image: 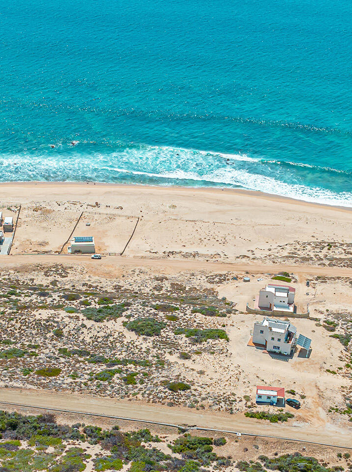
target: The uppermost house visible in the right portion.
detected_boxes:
[254,280,297,313]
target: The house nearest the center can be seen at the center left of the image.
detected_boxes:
[67,235,96,254]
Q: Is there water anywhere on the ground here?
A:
Yes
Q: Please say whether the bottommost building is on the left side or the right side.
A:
right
